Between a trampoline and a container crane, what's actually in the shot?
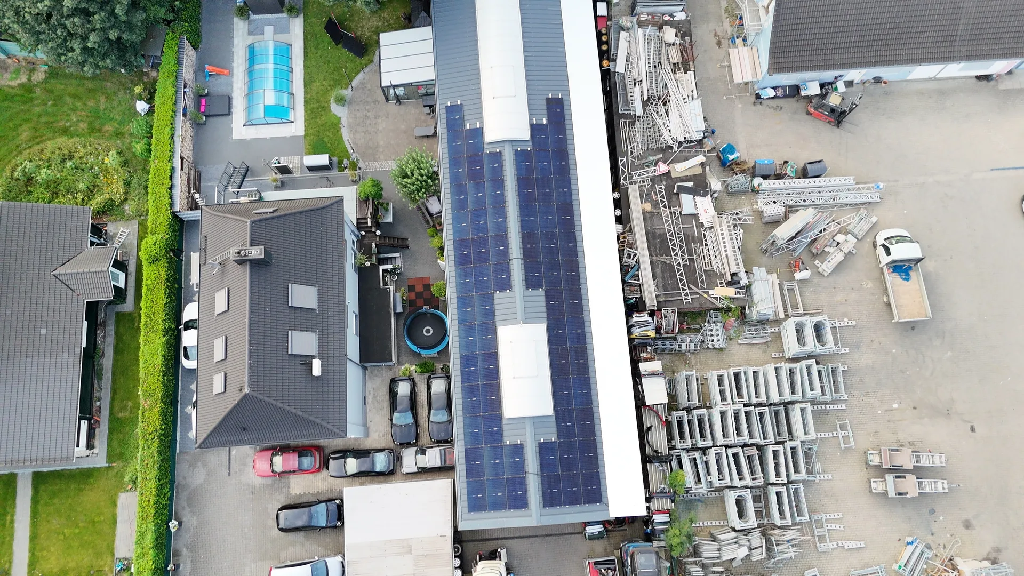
trampoline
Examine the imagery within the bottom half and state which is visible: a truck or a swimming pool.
truck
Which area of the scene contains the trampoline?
center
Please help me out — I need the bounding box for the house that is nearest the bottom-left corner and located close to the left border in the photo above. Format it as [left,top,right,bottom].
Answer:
[0,199,136,471]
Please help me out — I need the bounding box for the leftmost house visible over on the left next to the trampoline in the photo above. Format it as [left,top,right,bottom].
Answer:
[194,183,398,451]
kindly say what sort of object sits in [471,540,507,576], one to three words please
van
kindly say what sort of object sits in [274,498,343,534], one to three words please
car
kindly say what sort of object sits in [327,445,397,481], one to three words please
car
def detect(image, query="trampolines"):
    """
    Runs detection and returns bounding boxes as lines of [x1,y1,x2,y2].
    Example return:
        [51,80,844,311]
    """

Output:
[403,310,446,361]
